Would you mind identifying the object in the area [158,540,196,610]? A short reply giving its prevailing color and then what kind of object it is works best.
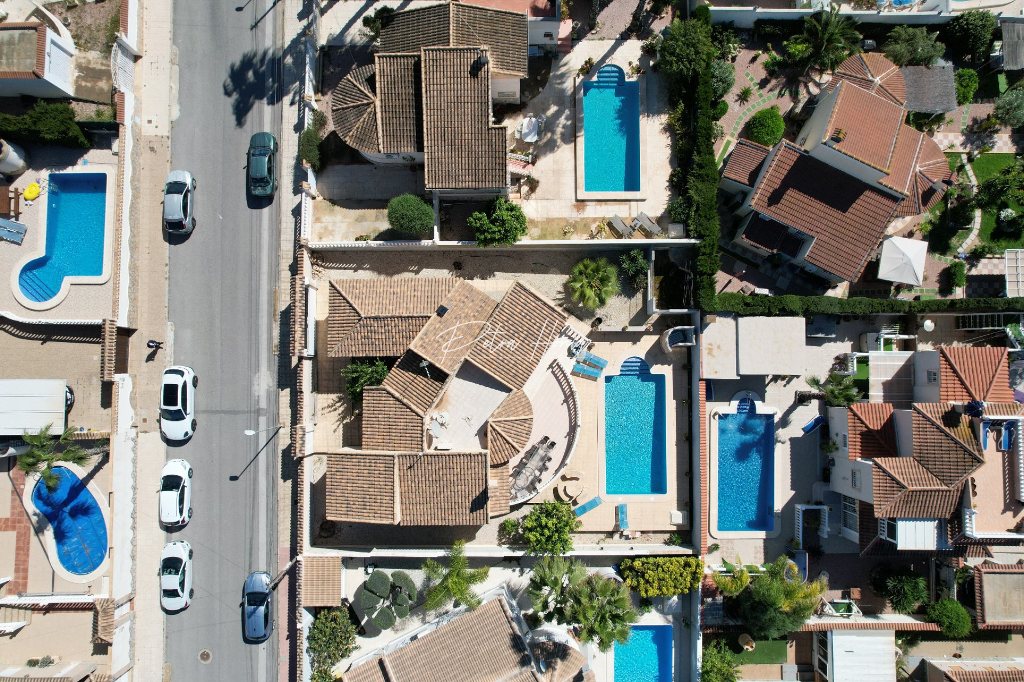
white car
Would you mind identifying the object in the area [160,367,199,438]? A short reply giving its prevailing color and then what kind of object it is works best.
white car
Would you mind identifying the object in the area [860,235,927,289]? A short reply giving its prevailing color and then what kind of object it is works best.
white gazebo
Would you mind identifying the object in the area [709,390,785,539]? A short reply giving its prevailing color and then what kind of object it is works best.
blue swimming pool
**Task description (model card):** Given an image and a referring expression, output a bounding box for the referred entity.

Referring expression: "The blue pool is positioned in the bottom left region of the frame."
[22,458,109,584]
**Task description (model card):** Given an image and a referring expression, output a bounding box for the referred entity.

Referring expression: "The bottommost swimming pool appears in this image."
[608,617,681,682]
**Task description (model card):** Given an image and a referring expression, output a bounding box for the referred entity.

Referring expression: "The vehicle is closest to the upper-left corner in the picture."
[162,172,198,233]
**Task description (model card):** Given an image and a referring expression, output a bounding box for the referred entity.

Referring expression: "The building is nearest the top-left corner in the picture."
[0,22,70,90]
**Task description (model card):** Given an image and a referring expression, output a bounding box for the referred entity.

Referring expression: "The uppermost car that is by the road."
[246,133,280,197]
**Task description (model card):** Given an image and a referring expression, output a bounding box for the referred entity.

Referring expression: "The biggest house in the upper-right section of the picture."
[716,50,953,283]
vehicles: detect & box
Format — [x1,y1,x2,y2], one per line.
[160,367,199,438]
[158,540,196,610]
[158,459,196,525]
[246,133,280,197]
[241,570,278,640]
[162,172,198,233]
